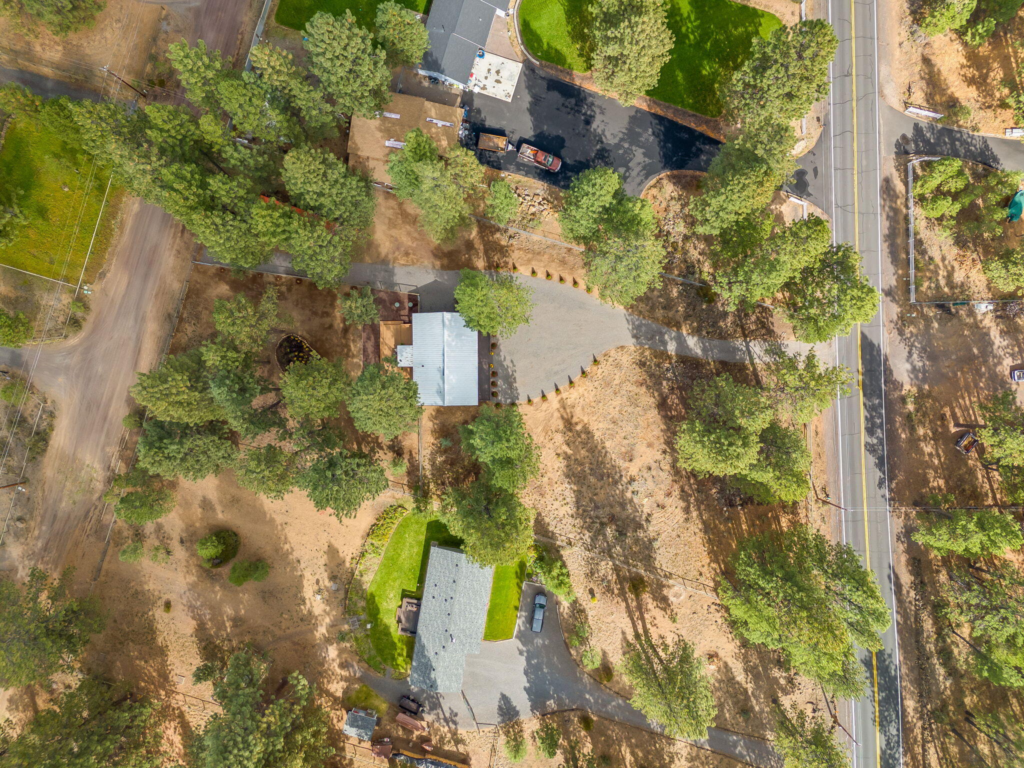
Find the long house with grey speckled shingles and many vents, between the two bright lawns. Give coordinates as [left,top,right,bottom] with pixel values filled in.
[409,537,495,692]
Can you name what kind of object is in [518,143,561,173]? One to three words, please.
truck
